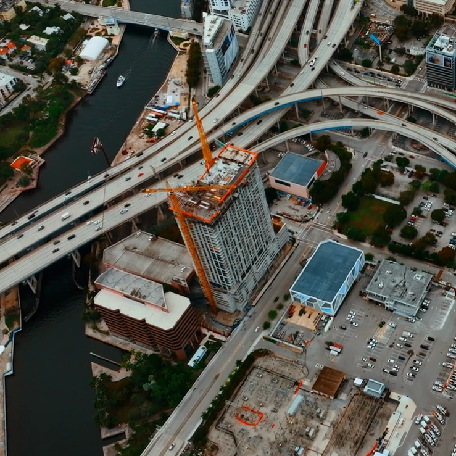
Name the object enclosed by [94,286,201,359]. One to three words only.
building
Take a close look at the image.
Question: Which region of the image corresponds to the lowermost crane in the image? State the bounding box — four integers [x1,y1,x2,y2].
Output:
[145,184,236,311]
